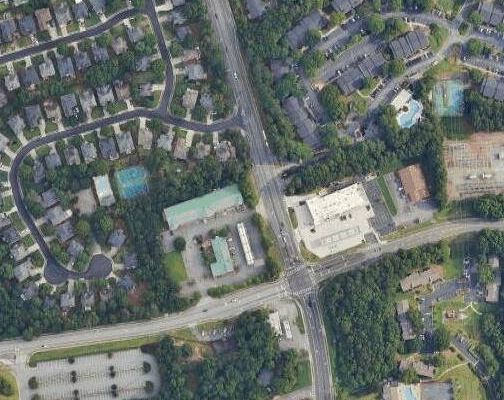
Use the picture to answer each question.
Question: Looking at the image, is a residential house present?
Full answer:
Yes, there's a residential house down there.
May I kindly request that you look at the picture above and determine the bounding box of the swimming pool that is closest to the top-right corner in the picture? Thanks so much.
[397,95,423,130]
